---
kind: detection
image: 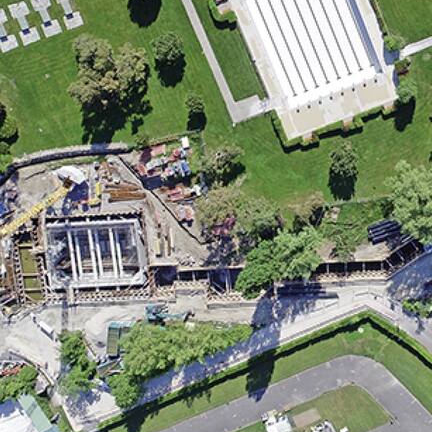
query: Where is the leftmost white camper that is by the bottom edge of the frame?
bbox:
[266,409,289,432]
